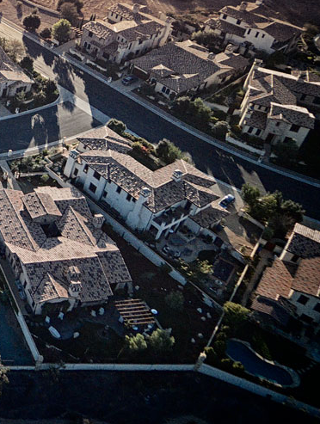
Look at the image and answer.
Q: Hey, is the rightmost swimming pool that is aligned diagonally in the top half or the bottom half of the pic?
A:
bottom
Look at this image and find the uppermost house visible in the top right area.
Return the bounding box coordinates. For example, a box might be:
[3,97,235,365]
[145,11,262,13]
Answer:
[210,0,309,56]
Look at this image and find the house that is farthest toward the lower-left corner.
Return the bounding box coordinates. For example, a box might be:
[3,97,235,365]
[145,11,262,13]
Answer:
[0,190,132,315]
